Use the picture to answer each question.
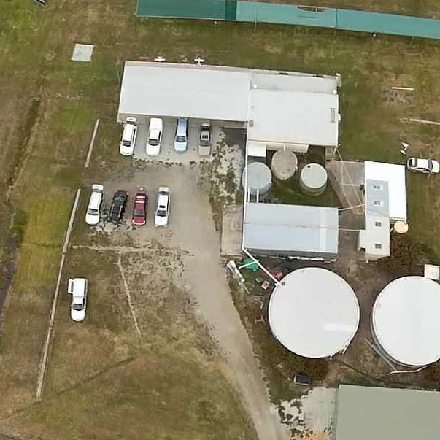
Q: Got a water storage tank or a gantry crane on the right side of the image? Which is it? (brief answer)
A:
water storage tank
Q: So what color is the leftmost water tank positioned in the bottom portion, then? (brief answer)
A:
white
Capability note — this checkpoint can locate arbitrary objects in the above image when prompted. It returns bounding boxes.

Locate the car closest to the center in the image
[153,187,171,228]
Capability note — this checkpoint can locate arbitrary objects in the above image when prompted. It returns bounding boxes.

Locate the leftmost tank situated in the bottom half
[268,268,359,360]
